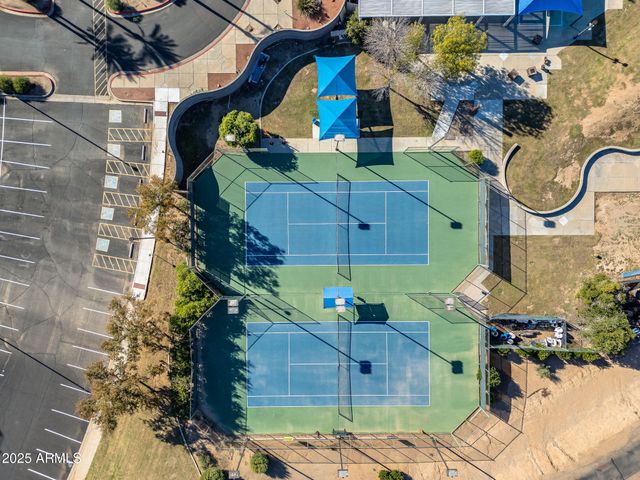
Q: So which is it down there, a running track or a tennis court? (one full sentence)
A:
The one in the frame is a tennis court.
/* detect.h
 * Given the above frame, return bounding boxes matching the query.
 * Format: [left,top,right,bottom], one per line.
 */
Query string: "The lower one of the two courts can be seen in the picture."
[198,293,479,436]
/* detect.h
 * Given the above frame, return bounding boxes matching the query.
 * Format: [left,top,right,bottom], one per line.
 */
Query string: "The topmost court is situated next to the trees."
[196,152,478,294]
